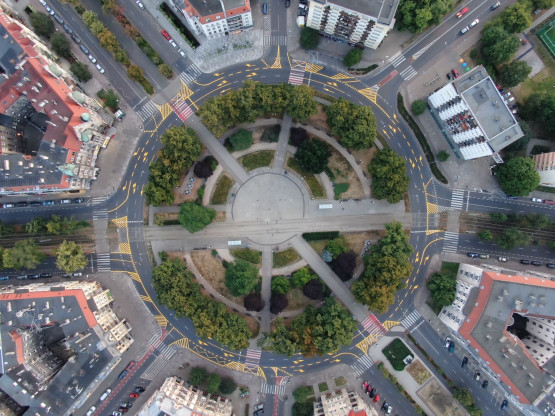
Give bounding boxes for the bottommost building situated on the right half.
[319,387,371,416]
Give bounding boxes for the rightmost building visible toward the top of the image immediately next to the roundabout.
[430,64,525,163]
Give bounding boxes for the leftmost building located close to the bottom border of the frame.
[0,281,136,416]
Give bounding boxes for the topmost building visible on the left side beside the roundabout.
[173,0,253,39]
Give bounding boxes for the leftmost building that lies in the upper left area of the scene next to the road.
[0,7,114,196]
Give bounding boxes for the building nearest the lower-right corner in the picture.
[437,263,555,416]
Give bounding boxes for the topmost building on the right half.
[306,0,399,48]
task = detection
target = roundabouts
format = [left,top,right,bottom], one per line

[107,36,449,382]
